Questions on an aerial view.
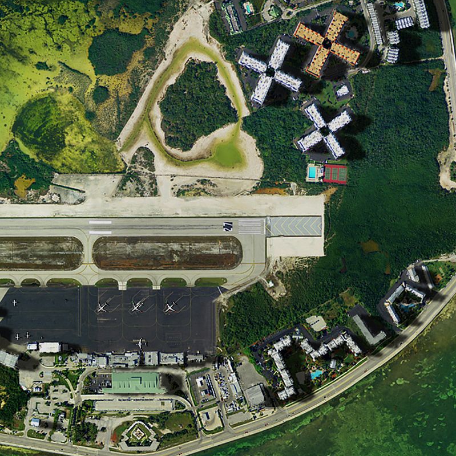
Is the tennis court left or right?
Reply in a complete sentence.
You can find the tennis court on the right side of the picture.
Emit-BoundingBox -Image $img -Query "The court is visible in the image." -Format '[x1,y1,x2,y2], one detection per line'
[323,164,347,185]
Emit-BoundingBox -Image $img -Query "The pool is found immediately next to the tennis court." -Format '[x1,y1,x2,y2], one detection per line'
[306,164,322,182]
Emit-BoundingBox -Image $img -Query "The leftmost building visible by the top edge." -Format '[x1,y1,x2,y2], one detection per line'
[225,3,244,34]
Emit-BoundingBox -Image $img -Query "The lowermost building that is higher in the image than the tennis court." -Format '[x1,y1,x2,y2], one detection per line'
[300,104,353,157]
